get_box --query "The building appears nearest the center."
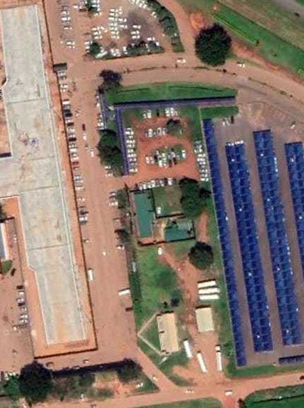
[134,190,156,239]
